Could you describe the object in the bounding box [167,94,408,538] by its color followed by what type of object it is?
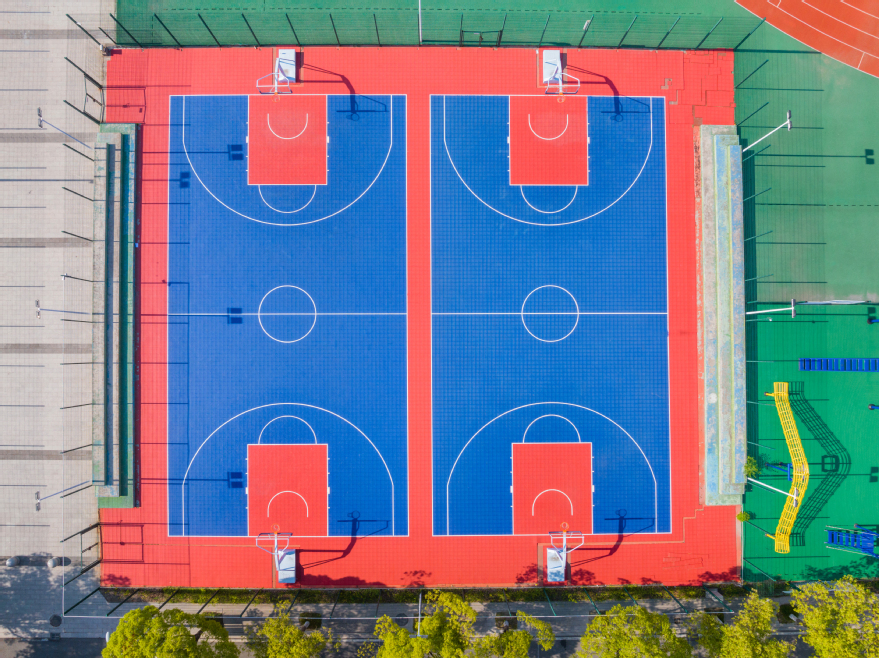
blue basketball court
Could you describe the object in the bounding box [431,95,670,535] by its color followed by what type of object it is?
blue basketball court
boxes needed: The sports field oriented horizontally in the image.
[116,0,809,46]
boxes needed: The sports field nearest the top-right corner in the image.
[738,46,879,303]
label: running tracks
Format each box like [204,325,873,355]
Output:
[736,0,879,78]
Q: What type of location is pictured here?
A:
sports ground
